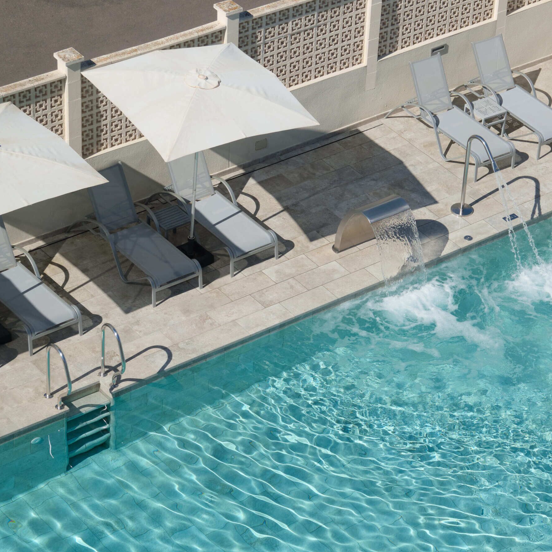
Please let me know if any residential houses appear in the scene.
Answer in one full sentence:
No, no residential house is visible in the scene.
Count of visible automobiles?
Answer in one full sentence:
There are no automobiles in this view.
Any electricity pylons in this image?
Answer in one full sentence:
No, I can see no electricity pylon in this picture.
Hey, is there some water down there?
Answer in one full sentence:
Yes, some water is visible.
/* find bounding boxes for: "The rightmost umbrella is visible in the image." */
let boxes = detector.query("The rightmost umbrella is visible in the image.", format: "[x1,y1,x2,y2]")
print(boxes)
[82,42,320,261]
